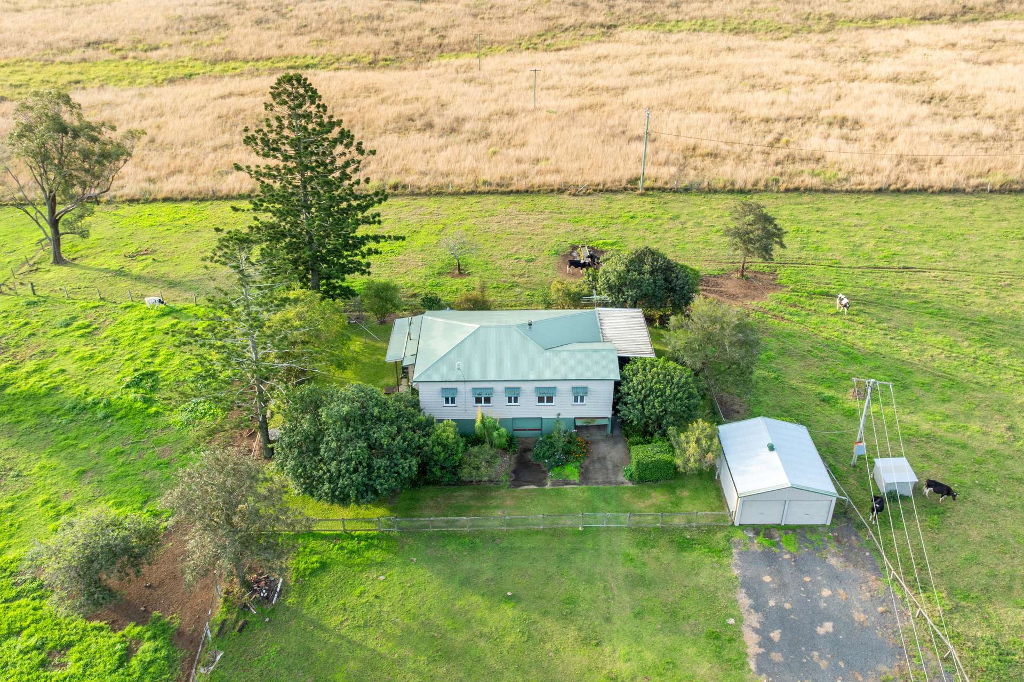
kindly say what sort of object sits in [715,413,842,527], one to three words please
building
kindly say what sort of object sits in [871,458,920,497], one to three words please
shed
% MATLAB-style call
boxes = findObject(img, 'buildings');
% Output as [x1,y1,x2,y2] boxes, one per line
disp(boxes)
[715,413,842,527]
[384,286,656,437]
[871,458,920,497]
